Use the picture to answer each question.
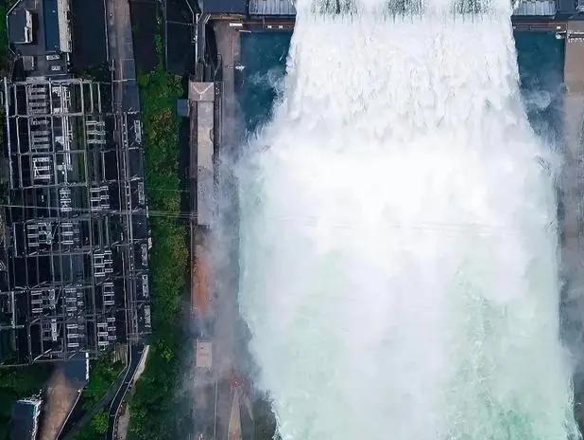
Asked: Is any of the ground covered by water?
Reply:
Yes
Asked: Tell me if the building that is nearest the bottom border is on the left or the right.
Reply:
left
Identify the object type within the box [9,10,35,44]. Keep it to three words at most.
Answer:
house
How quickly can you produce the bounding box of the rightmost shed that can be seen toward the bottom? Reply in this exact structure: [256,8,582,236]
[196,340,213,366]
